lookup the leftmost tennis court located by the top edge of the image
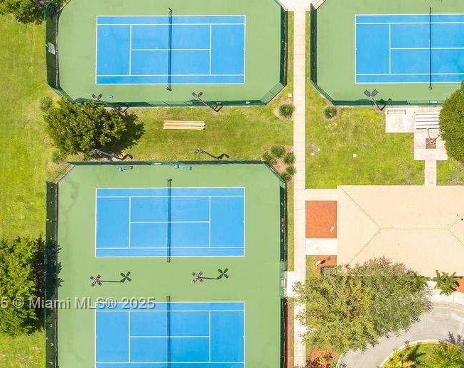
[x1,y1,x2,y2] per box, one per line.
[58,0,285,104]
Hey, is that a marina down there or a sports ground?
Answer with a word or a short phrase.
sports ground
